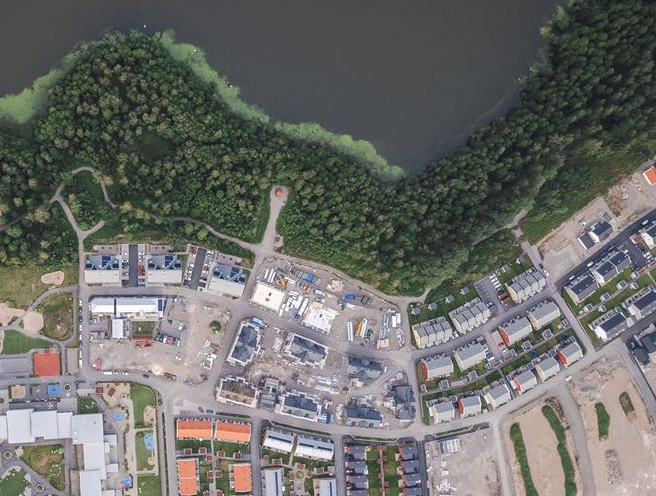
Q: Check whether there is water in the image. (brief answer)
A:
Yes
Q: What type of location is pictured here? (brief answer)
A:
residential area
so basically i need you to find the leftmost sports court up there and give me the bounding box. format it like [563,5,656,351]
[0,355,31,377]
